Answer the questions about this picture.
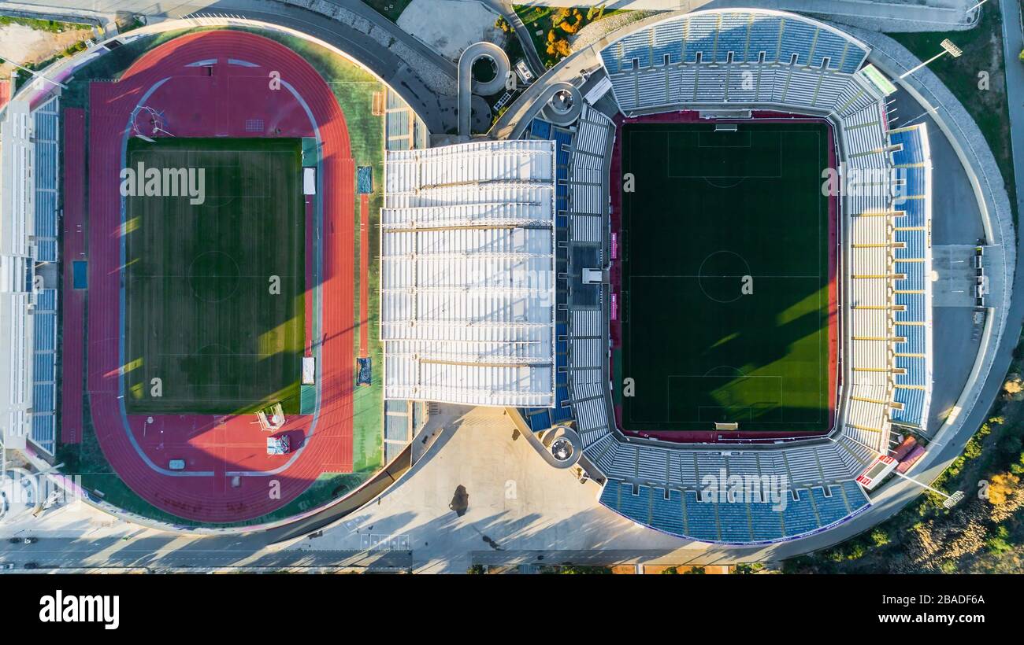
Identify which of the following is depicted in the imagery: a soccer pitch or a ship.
soccer pitch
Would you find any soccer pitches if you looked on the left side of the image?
Yes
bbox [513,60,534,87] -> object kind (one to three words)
building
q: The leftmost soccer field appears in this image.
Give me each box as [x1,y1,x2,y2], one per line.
[126,137,302,414]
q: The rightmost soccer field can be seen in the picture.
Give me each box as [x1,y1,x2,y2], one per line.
[621,122,829,431]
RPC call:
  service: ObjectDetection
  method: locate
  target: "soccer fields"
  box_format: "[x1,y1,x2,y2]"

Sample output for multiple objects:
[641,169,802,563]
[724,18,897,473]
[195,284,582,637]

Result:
[126,137,302,414]
[621,122,829,431]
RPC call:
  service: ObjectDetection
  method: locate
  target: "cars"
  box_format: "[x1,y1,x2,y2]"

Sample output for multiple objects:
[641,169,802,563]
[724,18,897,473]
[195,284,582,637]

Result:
[25,563,38,569]
[8,538,21,544]
[0,563,13,569]
[29,538,42,544]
